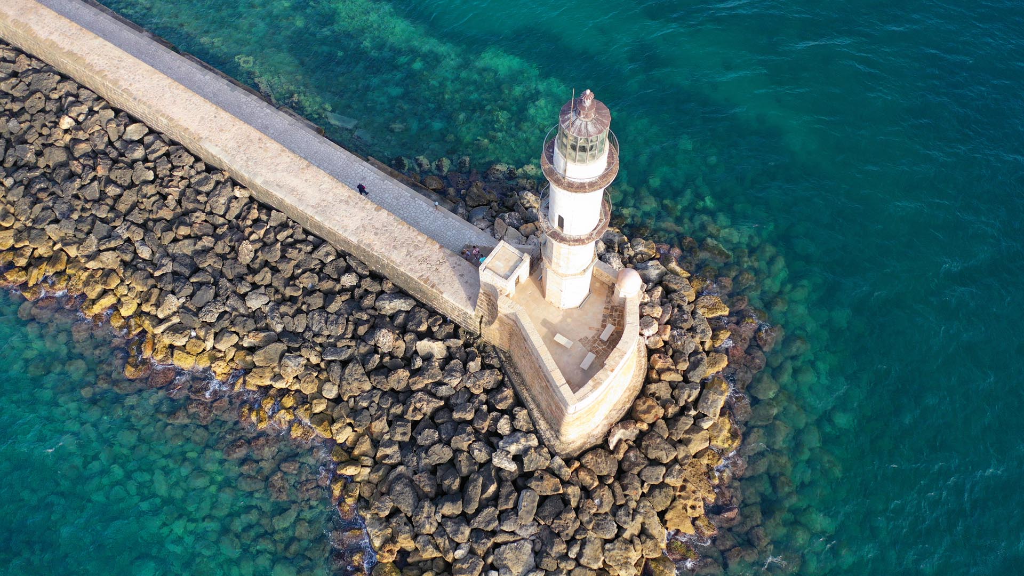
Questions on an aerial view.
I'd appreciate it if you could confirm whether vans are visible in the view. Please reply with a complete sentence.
No, this view has no van in it.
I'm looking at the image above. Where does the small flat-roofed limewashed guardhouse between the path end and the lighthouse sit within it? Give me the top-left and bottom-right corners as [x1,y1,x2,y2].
[480,239,529,297]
